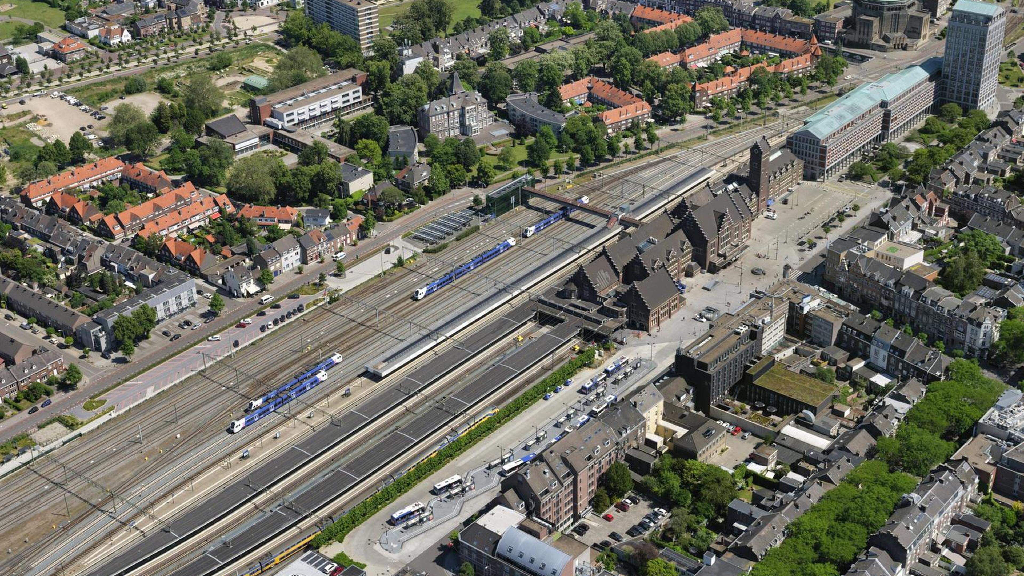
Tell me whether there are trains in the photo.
Yes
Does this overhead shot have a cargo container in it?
No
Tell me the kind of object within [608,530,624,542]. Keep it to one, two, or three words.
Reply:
vehicle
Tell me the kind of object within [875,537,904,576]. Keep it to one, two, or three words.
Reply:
house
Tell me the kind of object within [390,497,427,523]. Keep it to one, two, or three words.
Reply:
bus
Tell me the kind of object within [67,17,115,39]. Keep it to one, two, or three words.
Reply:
building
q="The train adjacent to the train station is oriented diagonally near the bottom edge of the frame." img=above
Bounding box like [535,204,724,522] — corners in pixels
[240,412,500,576]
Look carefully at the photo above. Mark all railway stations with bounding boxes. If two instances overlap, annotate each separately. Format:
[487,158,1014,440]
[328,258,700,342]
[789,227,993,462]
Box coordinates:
[556,136,809,332]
